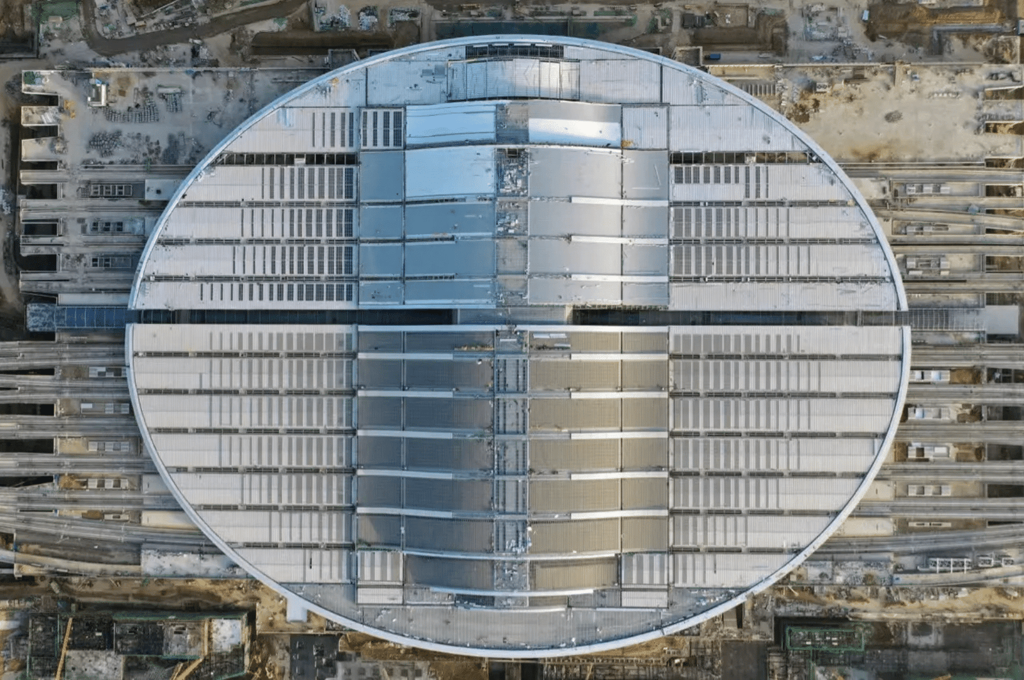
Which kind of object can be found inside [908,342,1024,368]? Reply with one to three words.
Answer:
bridge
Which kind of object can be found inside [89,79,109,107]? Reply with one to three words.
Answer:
shed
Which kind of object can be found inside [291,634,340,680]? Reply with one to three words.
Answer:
building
